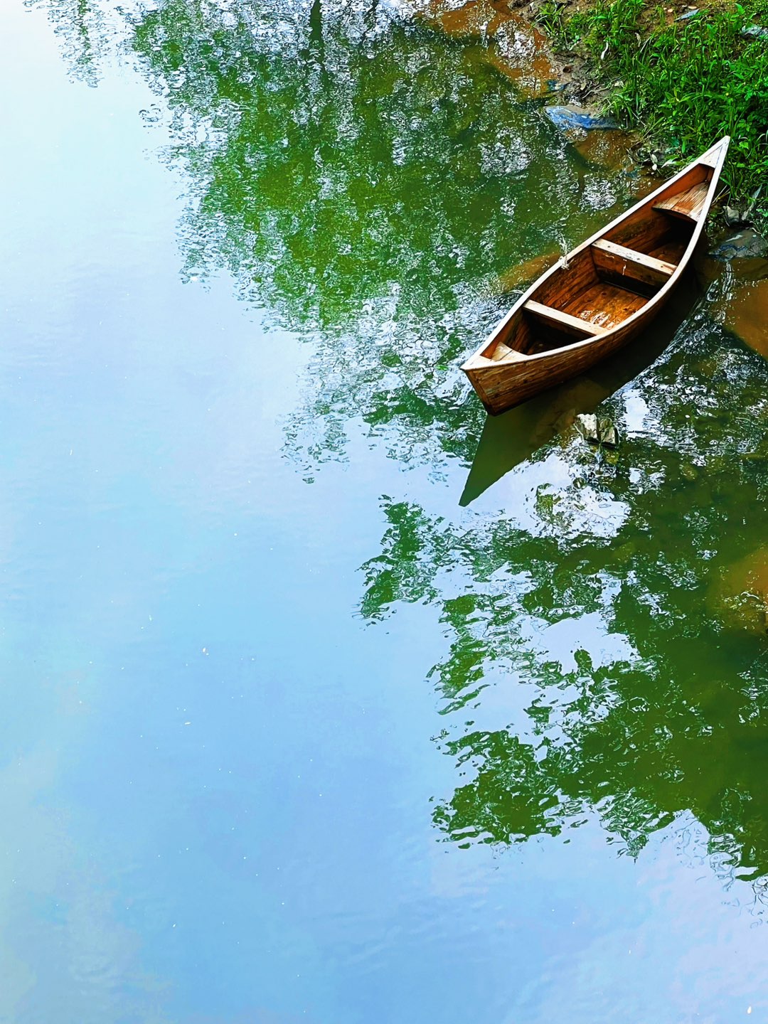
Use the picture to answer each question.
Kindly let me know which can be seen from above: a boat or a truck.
boat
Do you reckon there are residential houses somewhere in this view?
No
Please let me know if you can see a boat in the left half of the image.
No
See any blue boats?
No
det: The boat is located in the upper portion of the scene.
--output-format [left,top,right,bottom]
[461,136,727,425]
